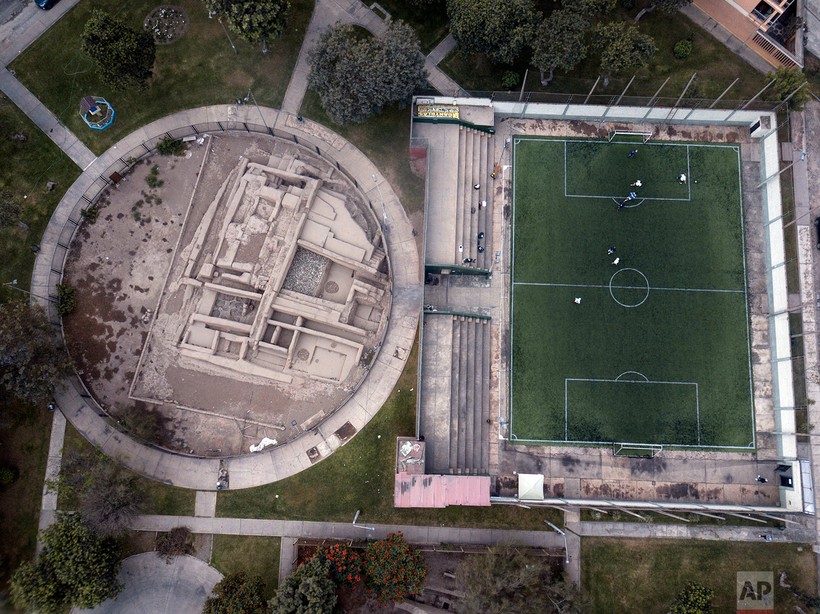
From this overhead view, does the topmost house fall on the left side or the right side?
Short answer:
right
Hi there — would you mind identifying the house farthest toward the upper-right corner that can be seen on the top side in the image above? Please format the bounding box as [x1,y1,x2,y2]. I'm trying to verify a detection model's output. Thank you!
[725,0,795,29]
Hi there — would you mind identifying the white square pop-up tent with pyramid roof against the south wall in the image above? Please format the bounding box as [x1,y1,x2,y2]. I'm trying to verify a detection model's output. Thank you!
[517,473,544,500]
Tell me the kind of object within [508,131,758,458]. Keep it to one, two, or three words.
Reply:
soccer field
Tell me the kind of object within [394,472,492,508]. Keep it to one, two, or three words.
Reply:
shed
